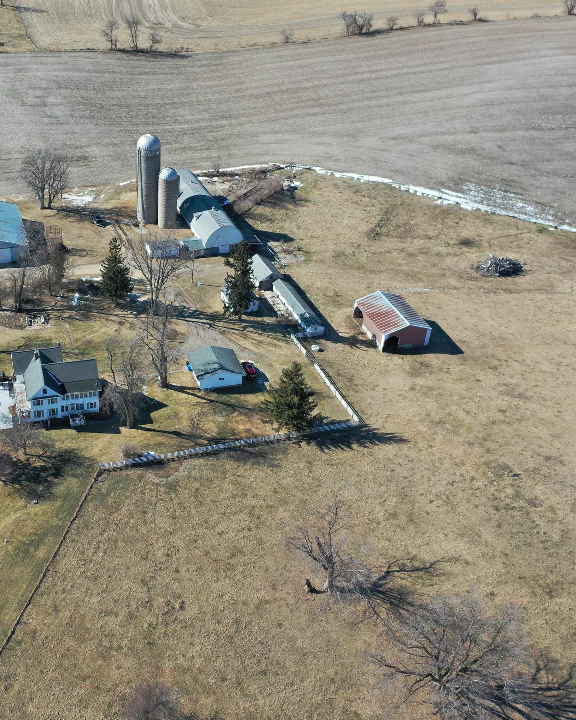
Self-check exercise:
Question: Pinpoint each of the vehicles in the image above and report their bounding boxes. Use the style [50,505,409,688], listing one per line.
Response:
[92,213,103,225]
[242,364,258,381]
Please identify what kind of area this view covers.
farmland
